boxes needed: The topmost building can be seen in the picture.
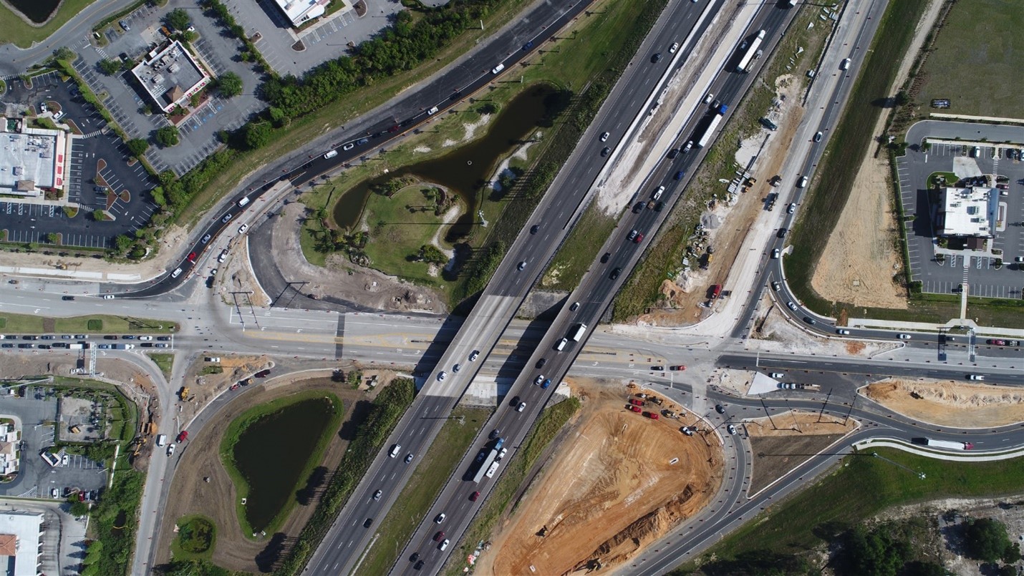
[276,0,335,29]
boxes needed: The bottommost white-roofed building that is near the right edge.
[934,174,999,249]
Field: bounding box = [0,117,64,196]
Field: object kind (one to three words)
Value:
building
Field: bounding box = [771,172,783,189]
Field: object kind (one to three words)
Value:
vehicle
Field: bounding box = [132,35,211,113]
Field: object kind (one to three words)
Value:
building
